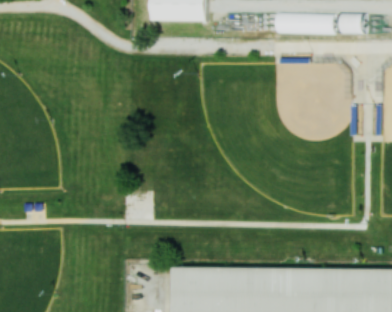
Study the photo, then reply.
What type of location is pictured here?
sports ground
